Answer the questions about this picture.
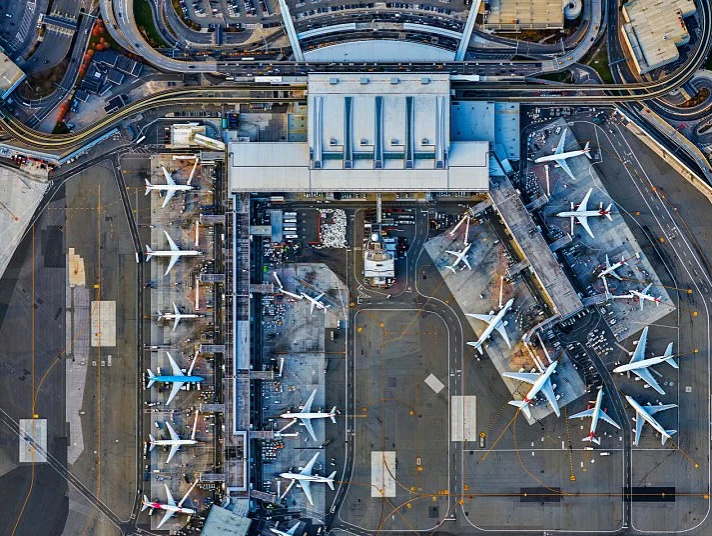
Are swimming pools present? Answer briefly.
No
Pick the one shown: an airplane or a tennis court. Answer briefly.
airplane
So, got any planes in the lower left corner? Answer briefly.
Yes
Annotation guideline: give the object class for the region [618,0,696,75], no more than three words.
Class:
building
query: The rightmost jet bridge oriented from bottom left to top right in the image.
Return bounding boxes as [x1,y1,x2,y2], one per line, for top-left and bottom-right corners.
[450,212,471,236]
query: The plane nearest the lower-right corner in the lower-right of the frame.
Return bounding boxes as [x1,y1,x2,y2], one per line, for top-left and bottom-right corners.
[627,395,676,445]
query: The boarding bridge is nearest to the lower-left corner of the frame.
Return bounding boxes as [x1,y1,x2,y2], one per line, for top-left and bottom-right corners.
[178,478,199,508]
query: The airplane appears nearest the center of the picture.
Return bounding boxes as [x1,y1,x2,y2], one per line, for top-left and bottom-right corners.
[302,291,332,314]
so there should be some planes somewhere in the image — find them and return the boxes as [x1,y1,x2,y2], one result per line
[148,352,204,406]
[302,291,332,314]
[504,361,561,418]
[148,421,196,463]
[535,128,592,179]
[599,254,629,279]
[627,395,676,445]
[281,389,335,442]
[155,301,202,331]
[444,244,472,273]
[146,230,202,276]
[568,388,621,442]
[467,299,515,352]
[631,284,661,312]
[143,484,195,528]
[271,523,303,536]
[557,188,613,238]
[147,166,193,209]
[276,452,337,506]
[613,326,681,393]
